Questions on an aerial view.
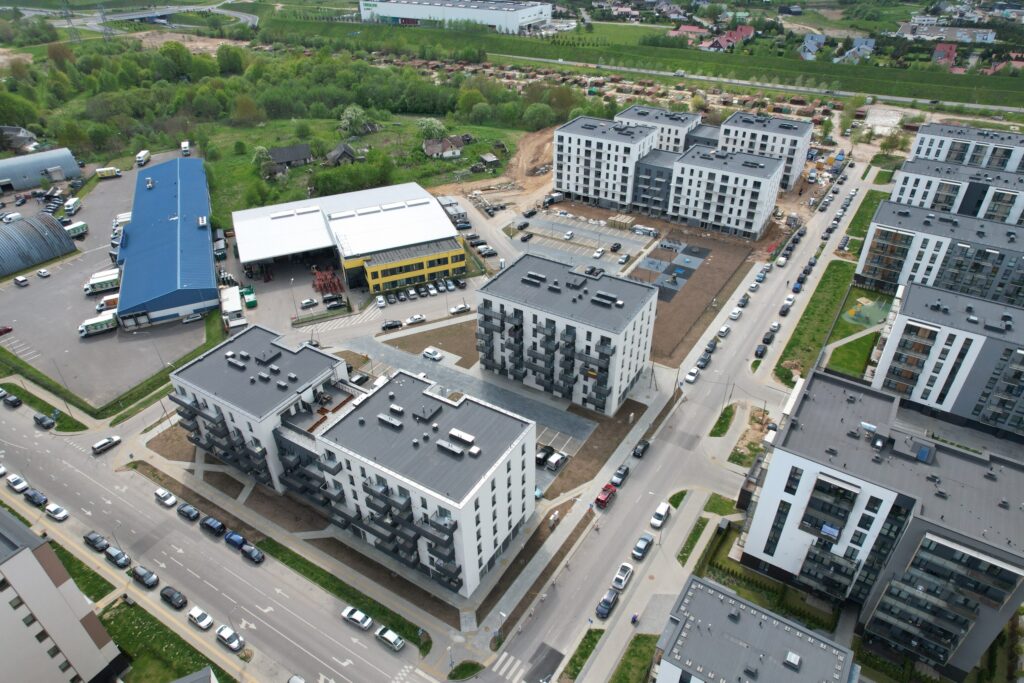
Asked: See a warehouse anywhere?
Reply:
Yes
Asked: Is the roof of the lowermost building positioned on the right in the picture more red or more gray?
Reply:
gray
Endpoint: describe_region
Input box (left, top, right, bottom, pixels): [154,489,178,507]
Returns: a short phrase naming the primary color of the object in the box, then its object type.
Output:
white car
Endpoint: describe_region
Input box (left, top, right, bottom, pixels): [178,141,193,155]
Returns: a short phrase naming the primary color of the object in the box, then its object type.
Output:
white vehicle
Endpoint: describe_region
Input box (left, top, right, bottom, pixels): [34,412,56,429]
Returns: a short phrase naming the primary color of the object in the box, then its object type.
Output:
gray car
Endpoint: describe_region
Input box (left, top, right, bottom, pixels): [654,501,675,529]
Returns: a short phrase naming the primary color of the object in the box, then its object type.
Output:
white vehicle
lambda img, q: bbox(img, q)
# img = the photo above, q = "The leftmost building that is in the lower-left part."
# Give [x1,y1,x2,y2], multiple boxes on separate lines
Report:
[0,470,124,683]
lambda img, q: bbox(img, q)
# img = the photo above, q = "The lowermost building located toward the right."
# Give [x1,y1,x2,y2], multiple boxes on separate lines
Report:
[640,576,861,683]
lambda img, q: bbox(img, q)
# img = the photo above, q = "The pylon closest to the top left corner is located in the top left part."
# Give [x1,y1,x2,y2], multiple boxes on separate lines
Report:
[56,0,82,40]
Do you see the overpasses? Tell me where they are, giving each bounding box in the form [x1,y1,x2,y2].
[95,3,237,28]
